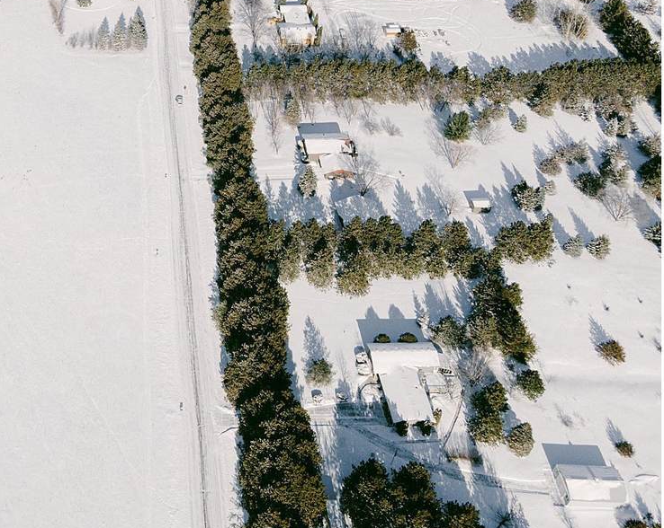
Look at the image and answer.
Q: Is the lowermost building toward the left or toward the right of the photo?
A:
right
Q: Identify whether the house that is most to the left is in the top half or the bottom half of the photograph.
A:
top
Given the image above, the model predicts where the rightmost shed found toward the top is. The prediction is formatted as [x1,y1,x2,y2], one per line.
[462,193,494,213]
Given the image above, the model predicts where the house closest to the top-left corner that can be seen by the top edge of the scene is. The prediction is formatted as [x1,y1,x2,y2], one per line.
[268,2,318,52]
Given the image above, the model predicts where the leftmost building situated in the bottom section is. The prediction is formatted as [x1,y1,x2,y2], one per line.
[365,343,452,431]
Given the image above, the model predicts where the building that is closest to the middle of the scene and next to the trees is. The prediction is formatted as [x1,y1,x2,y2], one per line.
[302,130,354,184]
